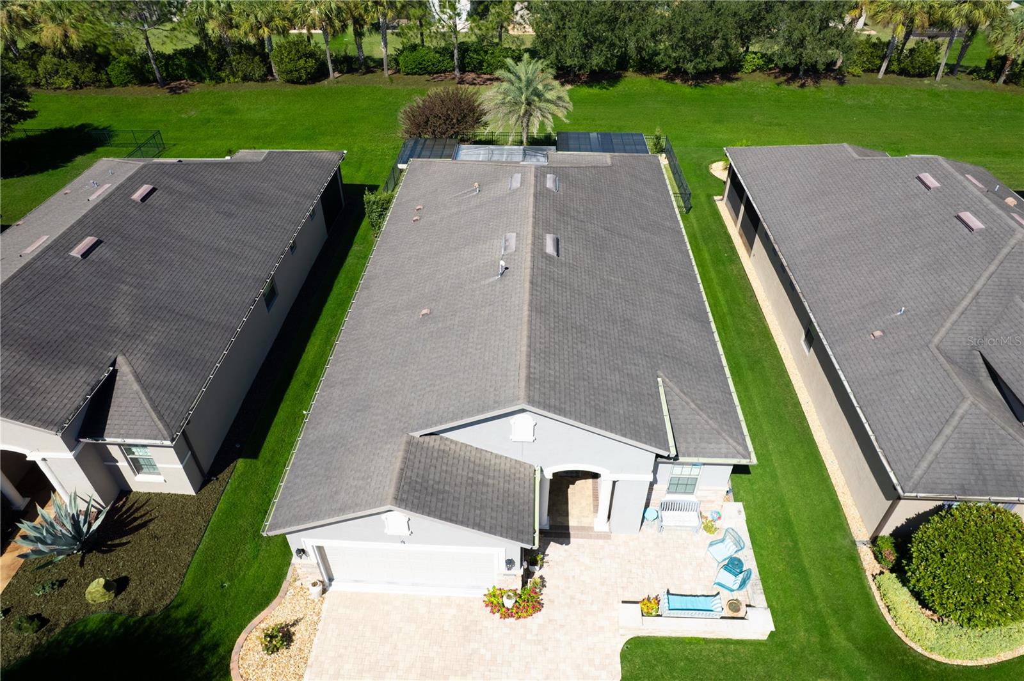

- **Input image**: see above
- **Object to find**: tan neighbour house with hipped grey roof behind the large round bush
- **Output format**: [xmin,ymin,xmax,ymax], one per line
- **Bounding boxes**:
[727,145,1024,539]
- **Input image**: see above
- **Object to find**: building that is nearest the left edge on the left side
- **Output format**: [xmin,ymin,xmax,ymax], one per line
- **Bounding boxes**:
[0,149,338,516]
